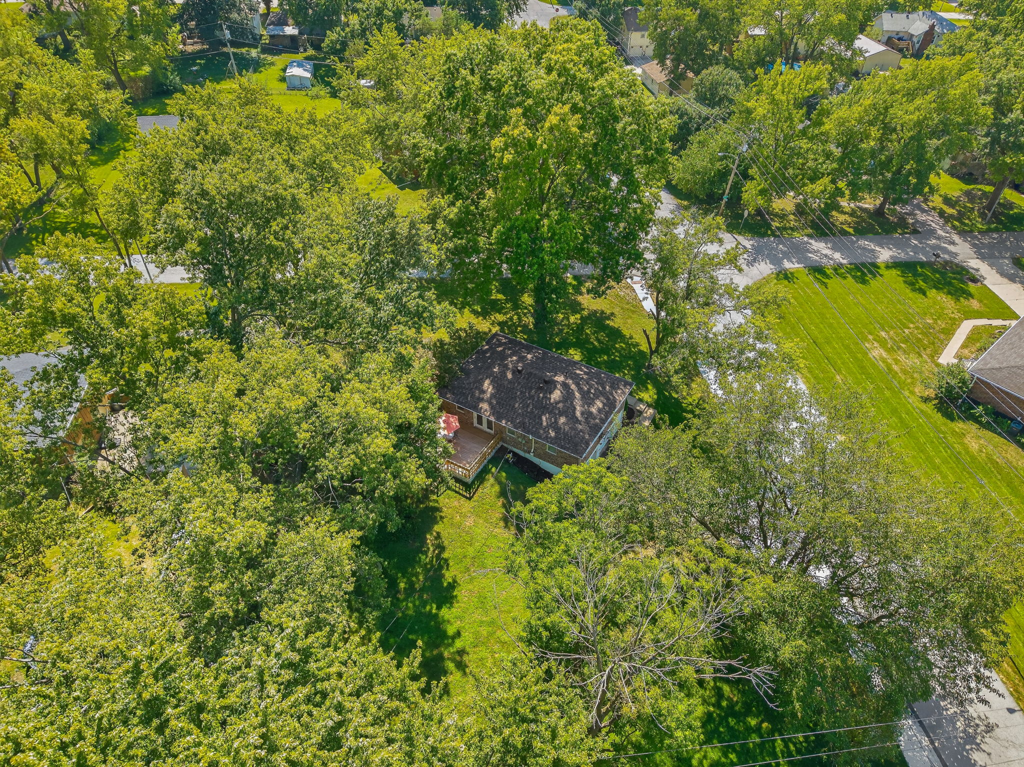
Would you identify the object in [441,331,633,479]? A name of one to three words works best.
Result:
house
